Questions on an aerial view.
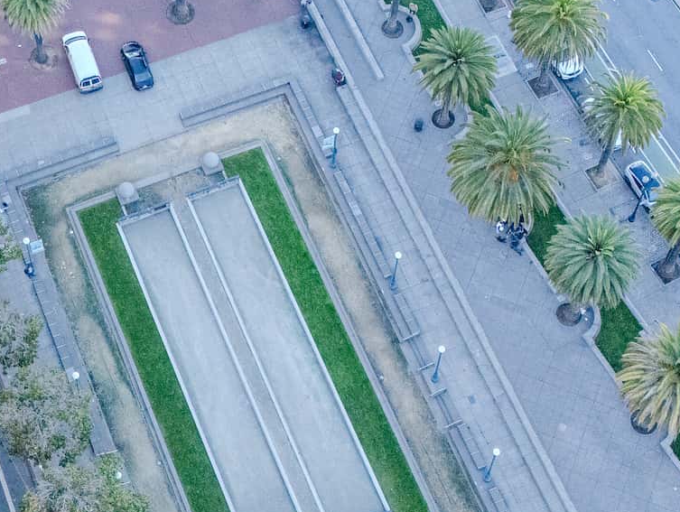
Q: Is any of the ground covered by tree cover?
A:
Yes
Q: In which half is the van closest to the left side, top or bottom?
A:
top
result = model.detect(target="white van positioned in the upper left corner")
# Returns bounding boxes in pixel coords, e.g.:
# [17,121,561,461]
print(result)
[62,32,106,91]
